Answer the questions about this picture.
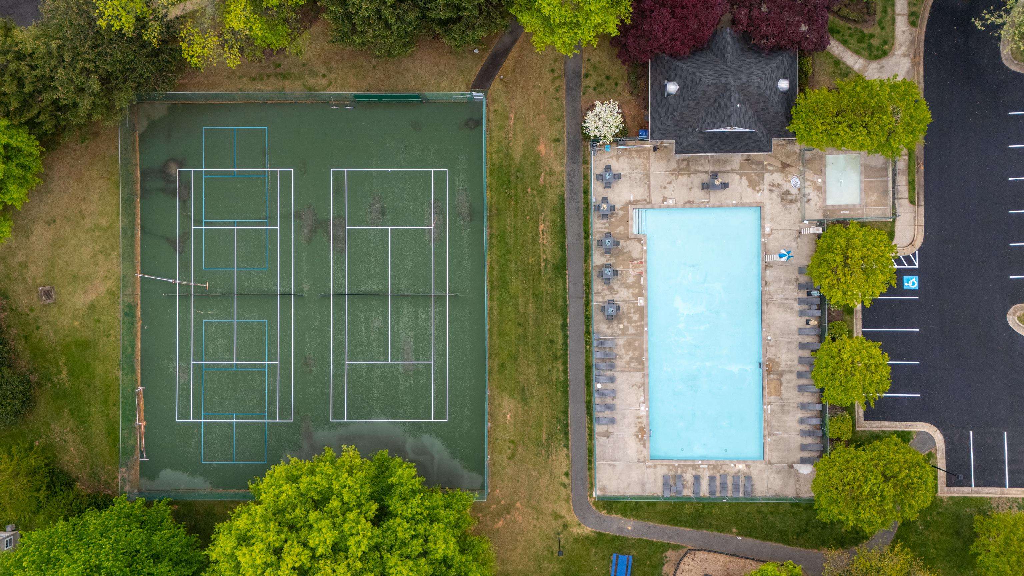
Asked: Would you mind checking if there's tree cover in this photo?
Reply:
Yes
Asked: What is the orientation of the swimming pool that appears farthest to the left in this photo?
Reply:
vertically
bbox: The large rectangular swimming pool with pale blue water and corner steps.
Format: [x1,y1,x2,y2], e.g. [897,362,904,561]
[630,195,782,469]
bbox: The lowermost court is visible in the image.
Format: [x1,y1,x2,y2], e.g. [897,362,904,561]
[202,321,267,463]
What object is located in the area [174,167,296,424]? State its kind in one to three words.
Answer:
tennis court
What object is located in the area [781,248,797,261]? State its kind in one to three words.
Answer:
umbrella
